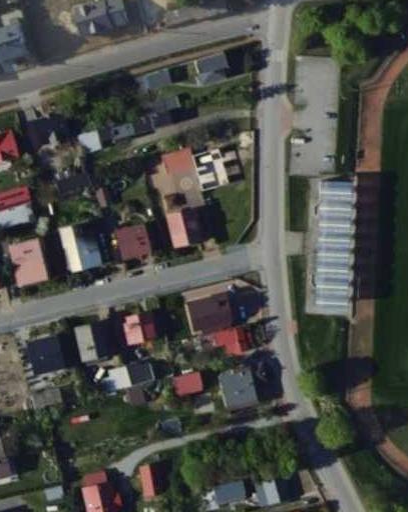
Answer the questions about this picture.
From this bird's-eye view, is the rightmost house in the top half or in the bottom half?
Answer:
bottom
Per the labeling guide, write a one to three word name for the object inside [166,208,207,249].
house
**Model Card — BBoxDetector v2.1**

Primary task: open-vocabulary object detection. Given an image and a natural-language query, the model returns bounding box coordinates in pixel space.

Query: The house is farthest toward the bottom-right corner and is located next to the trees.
[256,479,282,507]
